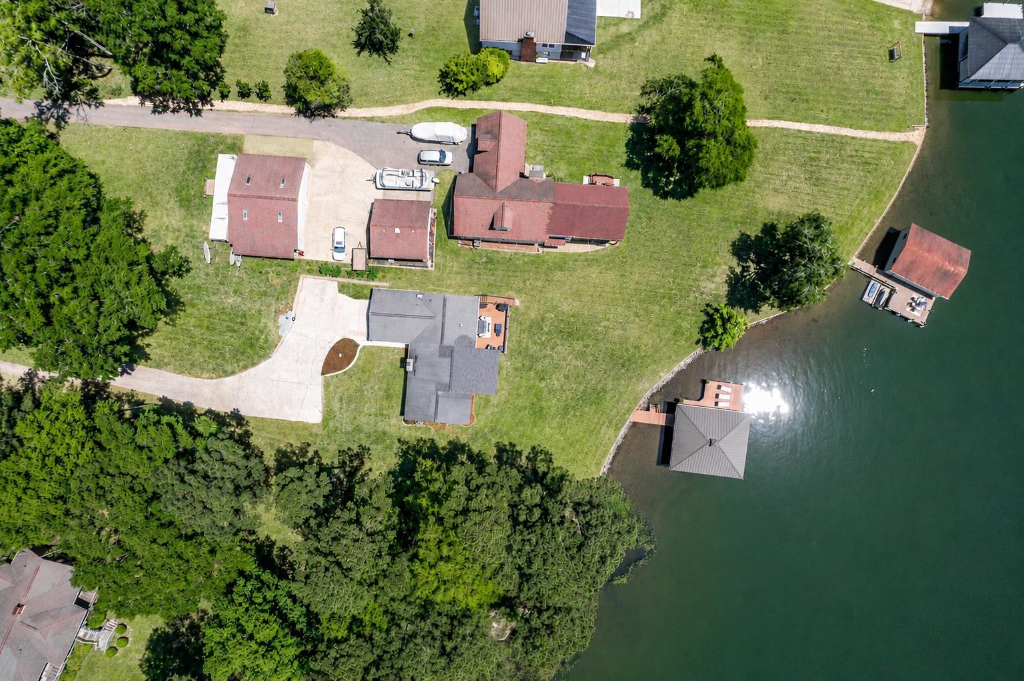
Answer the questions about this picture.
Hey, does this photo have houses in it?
Yes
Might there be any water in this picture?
Yes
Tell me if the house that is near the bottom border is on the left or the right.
left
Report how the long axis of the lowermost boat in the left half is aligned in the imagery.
from side to side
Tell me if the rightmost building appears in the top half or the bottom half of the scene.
top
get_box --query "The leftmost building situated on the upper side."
[207,152,310,260]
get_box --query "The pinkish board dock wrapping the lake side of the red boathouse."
[849,261,937,328]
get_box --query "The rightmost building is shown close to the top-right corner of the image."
[953,16,1024,90]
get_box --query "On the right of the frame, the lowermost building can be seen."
[670,403,754,480]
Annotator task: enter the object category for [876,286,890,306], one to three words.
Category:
boat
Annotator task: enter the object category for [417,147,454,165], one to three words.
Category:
car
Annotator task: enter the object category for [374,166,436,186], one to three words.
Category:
boat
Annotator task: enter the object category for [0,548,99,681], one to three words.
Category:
house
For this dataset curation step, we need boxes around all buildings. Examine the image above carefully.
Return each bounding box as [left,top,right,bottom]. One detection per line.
[953,16,1024,90]
[670,403,754,480]
[878,222,971,299]
[369,288,498,424]
[370,198,431,266]
[479,0,598,67]
[453,114,628,248]
[207,152,310,260]
[0,548,99,681]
